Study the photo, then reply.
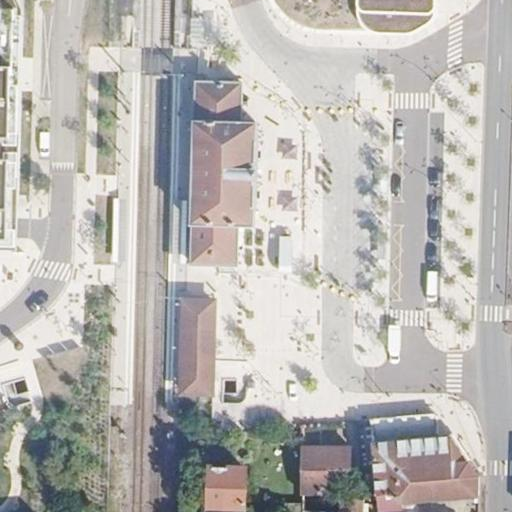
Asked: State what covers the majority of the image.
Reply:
paved ground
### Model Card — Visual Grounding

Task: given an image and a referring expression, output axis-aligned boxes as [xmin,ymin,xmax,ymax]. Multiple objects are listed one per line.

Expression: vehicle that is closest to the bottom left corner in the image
[26,289,47,308]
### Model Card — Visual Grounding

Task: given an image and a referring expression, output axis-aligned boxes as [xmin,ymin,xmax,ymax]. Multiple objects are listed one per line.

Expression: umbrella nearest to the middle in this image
[284,199,296,212]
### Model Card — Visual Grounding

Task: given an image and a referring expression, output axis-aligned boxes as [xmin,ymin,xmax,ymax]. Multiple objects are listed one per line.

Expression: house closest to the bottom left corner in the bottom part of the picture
[204,463,247,512]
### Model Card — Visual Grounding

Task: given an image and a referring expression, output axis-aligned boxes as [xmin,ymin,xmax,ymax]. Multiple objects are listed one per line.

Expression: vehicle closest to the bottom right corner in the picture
[387,325,401,364]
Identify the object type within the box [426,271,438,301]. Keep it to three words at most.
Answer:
vehicle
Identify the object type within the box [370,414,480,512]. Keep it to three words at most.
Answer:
building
